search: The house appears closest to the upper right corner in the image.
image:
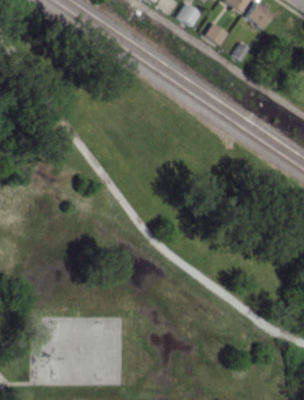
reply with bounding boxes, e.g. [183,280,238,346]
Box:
[244,3,274,33]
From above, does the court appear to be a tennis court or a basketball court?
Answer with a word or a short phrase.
basketball court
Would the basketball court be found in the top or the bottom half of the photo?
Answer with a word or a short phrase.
bottom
